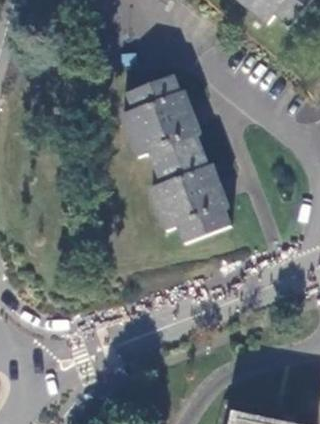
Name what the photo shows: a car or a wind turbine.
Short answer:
car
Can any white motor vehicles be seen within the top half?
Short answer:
Yes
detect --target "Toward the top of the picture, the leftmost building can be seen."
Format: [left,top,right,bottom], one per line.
[126,74,232,248]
